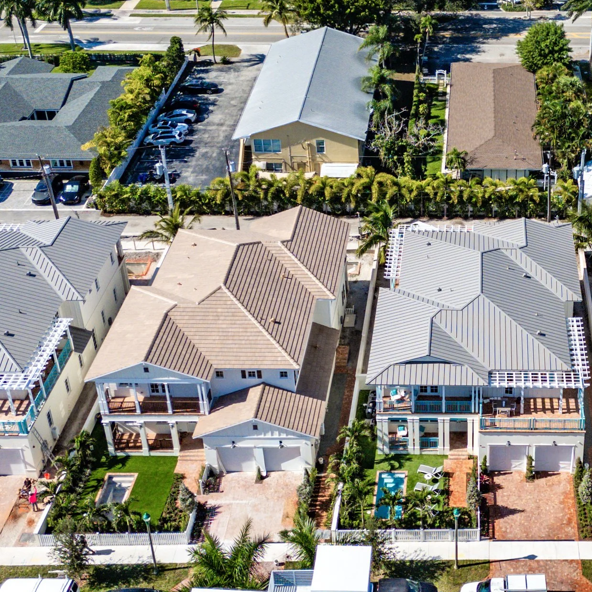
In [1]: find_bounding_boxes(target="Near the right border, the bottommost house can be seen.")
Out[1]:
[364,216,592,473]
